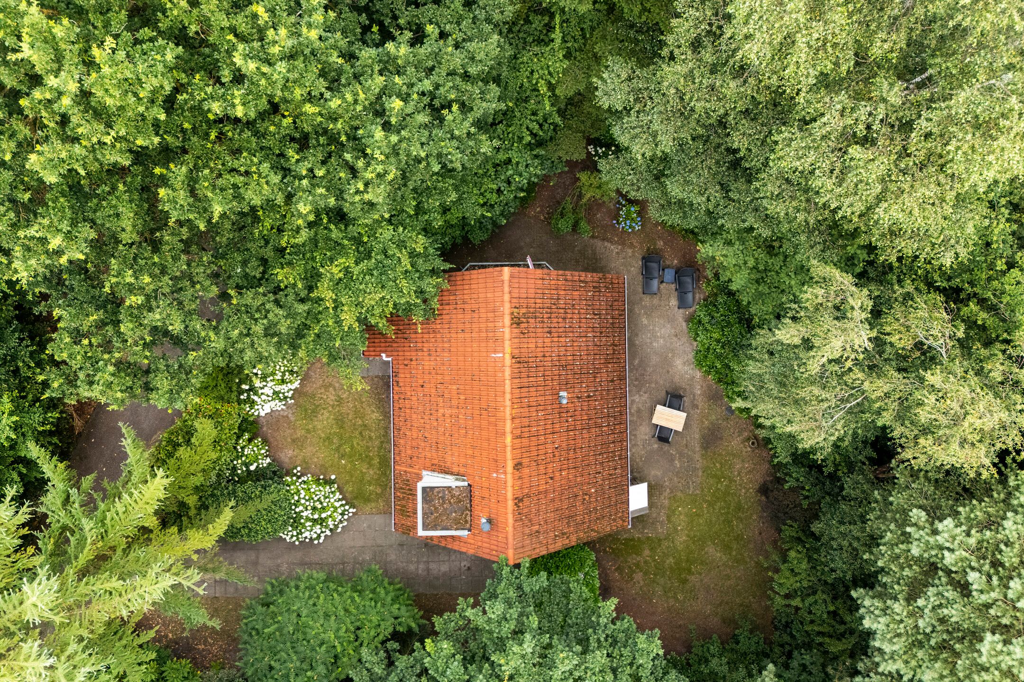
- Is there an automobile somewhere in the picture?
No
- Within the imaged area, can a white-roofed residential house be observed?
No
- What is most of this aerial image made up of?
trees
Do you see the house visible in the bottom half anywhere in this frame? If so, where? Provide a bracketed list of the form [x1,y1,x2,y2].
[358,262,648,566]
